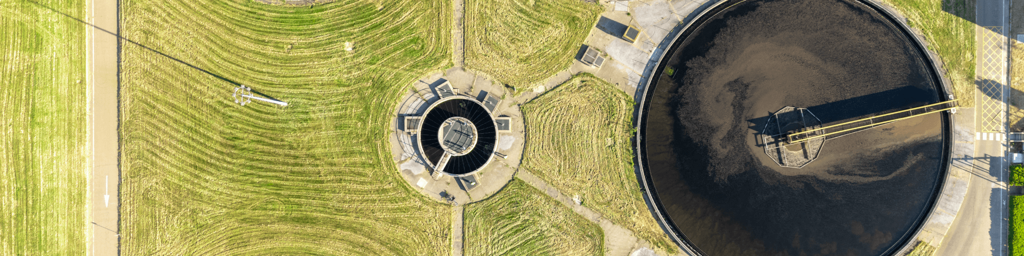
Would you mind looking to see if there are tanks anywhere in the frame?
Yes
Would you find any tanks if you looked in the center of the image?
Yes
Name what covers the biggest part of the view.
grass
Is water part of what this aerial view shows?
Yes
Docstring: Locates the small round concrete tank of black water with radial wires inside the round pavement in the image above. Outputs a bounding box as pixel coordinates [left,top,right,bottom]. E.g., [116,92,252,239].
[417,96,498,178]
